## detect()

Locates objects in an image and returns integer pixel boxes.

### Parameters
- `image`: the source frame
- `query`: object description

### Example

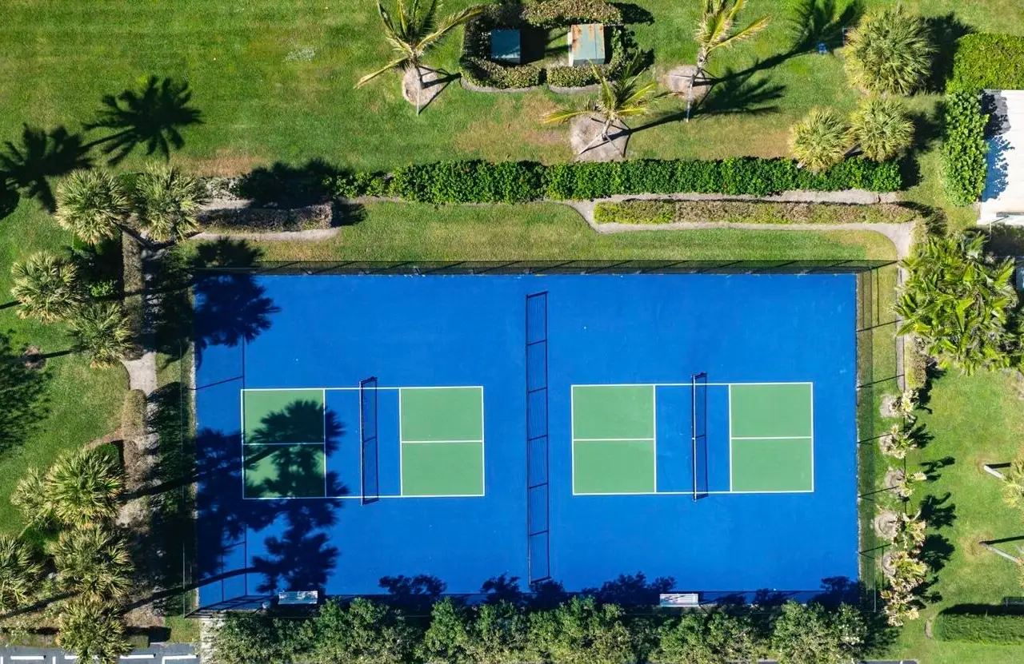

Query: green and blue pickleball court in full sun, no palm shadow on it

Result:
[571,382,815,496]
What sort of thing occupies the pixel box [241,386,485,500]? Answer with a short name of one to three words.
sports court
